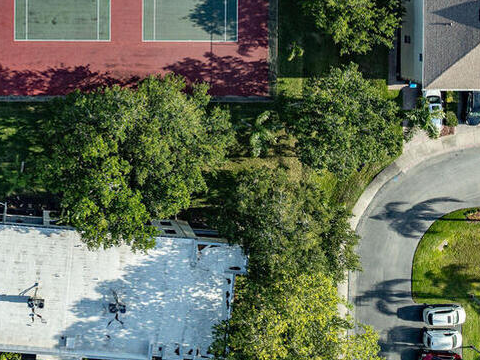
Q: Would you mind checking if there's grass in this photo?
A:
Yes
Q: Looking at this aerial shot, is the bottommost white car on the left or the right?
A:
right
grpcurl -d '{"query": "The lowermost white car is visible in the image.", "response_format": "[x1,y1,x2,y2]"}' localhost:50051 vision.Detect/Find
[426,331,465,353]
